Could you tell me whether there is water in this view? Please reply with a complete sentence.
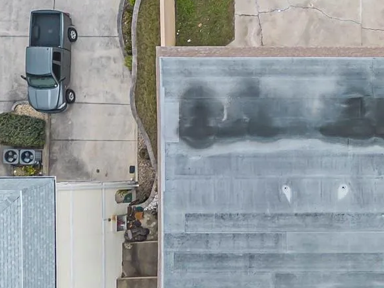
No, there's no water in this view.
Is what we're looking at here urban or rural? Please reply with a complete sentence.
The area shown here is urban.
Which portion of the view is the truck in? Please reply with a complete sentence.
The truck sits in the top left section of the image.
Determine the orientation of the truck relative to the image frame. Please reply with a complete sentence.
Seen from above, the truck lies up and down.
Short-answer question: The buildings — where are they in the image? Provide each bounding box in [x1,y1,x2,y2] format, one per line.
[156,45,384,288]
[0,177,135,288]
